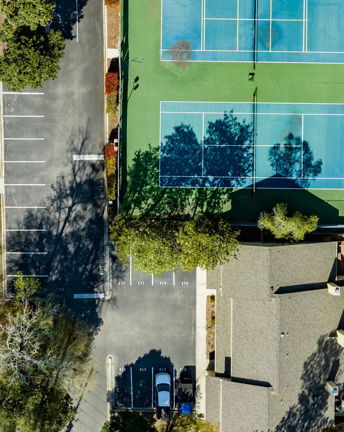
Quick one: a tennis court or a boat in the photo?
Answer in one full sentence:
Of the two, only a tennis court appears.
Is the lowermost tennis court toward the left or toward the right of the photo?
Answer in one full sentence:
It is on the right.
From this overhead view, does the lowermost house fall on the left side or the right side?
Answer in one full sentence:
The lowermost house is on the right side of the image.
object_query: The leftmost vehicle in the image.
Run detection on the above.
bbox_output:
[154,374,173,421]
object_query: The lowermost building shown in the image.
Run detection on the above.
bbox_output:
[204,373,338,432]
